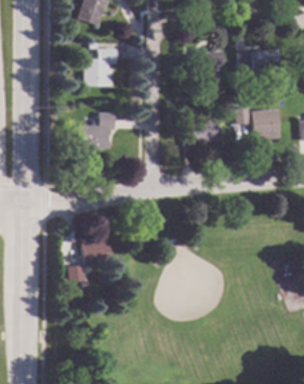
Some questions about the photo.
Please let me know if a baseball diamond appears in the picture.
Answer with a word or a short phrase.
Yes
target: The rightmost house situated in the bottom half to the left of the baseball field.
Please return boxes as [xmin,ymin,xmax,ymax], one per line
[82,241,113,260]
